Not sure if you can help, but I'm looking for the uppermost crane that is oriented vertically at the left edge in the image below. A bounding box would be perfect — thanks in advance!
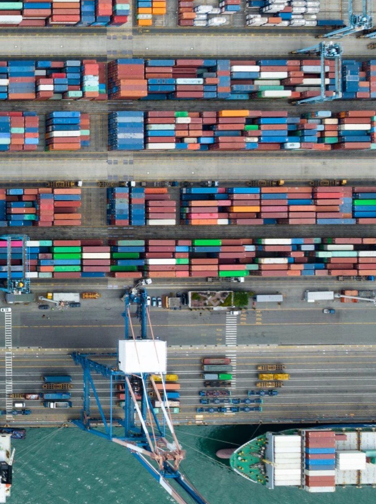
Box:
[0,233,28,294]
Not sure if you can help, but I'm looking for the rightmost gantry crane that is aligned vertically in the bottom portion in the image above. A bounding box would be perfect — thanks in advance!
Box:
[73,302,202,504]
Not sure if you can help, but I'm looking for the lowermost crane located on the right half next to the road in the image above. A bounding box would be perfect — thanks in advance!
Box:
[286,44,344,110]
